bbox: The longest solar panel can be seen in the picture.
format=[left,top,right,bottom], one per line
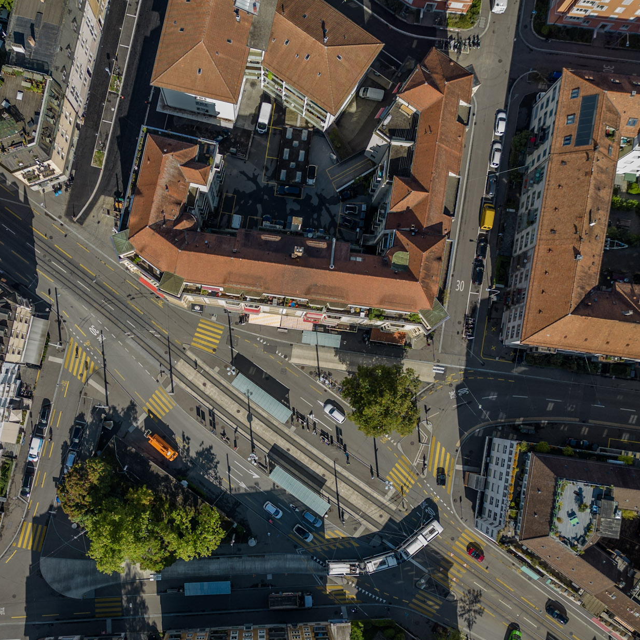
[574,94,599,146]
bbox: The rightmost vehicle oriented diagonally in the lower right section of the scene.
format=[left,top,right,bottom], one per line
[545,603,568,624]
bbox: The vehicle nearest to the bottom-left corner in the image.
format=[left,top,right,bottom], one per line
[21,476,33,496]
